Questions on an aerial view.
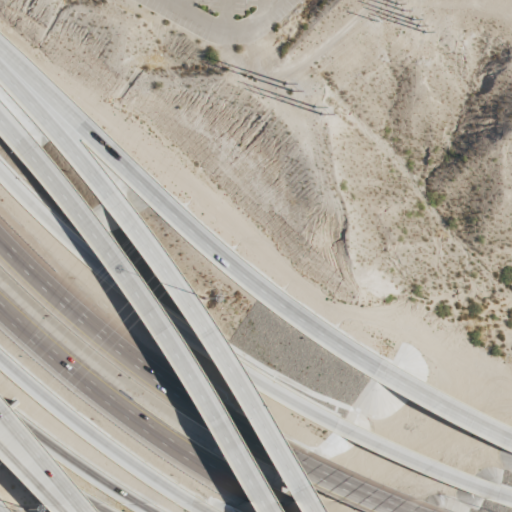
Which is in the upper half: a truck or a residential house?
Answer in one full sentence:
What appears in the upper half is a truck.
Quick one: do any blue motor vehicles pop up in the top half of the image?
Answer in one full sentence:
No, no blue motor vehicle appears in the top half of the image.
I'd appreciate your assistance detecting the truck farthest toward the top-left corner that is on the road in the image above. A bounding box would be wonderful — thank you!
[90,130,124,163]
